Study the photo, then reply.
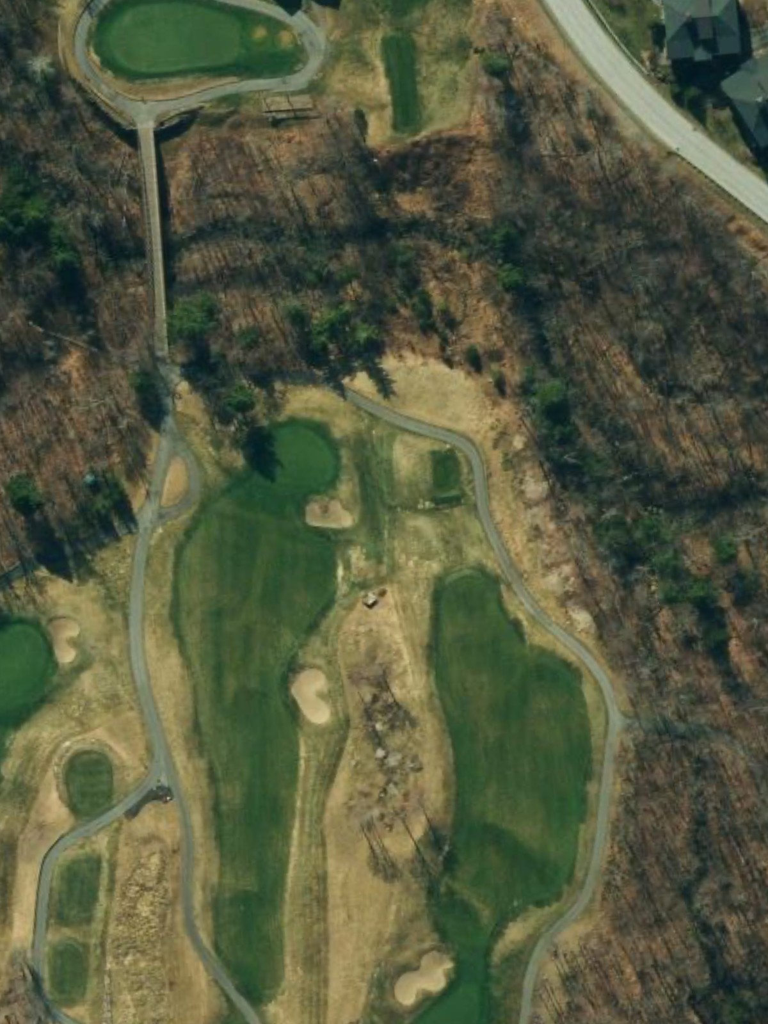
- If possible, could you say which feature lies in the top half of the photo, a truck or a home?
home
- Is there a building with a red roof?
No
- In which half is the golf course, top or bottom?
bottom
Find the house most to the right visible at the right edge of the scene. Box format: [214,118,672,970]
[724,72,768,158]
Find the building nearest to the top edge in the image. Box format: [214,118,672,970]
[666,0,743,67]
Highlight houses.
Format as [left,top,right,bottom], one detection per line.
[724,72,768,158]
[666,0,743,67]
